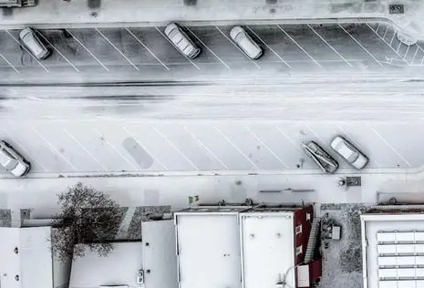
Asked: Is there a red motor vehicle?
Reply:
No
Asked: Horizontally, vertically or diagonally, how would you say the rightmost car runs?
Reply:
diagonally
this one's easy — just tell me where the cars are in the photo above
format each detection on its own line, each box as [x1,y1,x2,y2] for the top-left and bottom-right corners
[308,141,340,175]
[20,25,53,61]
[331,135,368,170]
[0,138,32,176]
[164,20,203,60]
[230,22,265,60]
